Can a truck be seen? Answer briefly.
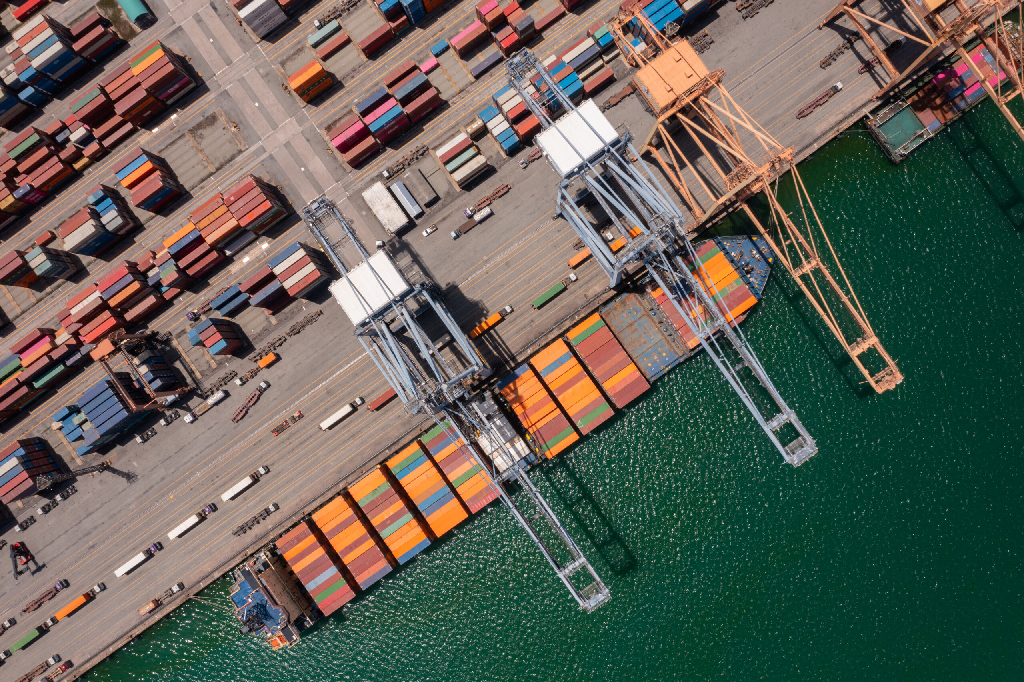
Yes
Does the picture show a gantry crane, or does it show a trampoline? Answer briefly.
gantry crane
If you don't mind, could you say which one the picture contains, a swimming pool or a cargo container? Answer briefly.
cargo container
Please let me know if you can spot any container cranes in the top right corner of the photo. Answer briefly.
Yes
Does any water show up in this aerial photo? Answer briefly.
Yes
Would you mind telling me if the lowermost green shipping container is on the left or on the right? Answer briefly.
left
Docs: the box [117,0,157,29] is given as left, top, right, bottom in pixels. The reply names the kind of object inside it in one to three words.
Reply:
shed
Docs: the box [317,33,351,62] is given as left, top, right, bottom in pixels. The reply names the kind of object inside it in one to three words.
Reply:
shipping container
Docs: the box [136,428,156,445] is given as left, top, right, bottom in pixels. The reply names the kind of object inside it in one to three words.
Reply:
vehicle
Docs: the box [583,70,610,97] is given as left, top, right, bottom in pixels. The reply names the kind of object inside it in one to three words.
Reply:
shipping container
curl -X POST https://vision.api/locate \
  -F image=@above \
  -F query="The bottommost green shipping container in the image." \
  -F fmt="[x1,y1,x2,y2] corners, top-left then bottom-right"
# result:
[14,620,51,648]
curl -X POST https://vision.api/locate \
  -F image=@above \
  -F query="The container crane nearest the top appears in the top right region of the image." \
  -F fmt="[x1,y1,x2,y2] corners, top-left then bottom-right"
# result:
[811,0,1024,134]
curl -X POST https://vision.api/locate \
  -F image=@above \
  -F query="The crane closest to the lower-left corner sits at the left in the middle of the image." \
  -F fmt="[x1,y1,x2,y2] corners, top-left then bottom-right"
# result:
[85,315,187,413]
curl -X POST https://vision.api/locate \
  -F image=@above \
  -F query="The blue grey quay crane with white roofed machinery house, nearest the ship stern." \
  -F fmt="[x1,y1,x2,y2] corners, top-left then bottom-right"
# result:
[295,192,609,609]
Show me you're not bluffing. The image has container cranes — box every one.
[85,315,187,413]
[602,0,909,393]
[811,0,1024,134]
[497,45,820,464]
[295,192,609,609]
